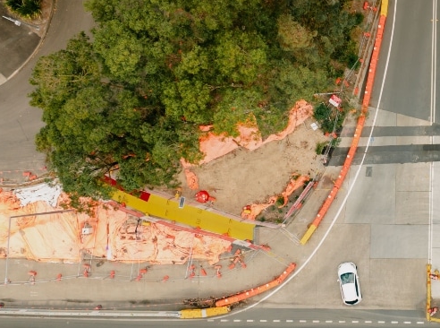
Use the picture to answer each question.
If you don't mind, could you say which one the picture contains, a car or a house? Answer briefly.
car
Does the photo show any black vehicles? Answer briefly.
No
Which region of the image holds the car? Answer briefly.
bottom right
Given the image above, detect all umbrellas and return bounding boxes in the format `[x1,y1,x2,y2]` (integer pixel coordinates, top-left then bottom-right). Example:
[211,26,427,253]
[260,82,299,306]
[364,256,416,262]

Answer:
[197,189,210,203]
